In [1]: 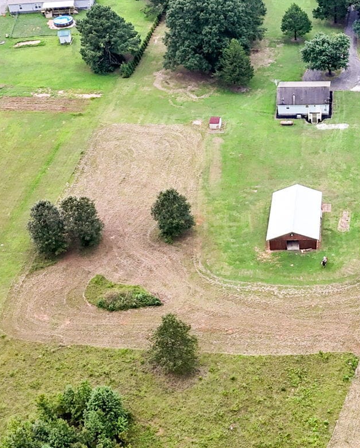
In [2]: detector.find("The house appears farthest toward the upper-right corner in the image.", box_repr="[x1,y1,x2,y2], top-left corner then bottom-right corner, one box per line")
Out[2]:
[275,81,332,125]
